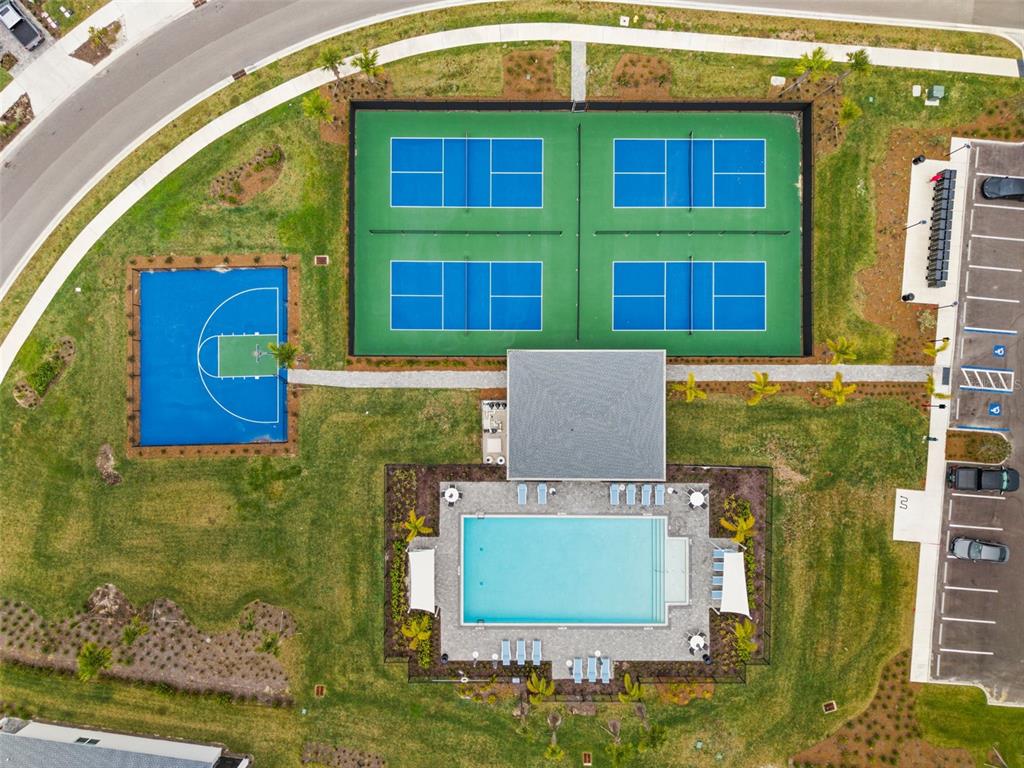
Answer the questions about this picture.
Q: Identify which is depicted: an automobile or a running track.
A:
automobile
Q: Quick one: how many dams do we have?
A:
0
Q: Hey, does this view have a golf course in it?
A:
No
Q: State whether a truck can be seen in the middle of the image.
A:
No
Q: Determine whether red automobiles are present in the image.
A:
No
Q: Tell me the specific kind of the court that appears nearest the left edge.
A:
basketball court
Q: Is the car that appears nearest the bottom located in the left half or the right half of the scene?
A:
right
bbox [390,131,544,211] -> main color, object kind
blue sports court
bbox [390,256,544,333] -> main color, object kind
blue sports court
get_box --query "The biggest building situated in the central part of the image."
[507,349,667,481]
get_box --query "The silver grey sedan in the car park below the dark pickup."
[949,536,1010,563]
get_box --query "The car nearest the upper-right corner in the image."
[980,174,1024,202]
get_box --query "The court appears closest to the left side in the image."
[140,267,287,446]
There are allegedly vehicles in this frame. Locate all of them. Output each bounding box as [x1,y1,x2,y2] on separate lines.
[949,536,1010,563]
[980,174,1024,202]
[0,0,48,53]
[946,466,1020,494]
